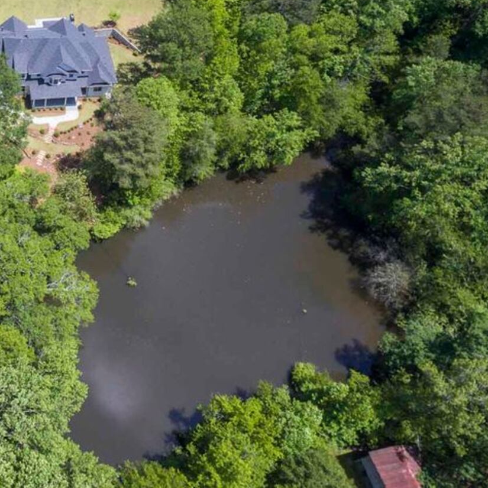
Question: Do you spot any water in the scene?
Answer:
Yes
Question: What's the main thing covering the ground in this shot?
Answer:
trees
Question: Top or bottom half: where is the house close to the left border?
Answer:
top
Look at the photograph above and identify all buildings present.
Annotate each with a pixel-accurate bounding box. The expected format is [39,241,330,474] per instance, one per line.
[0,9,115,110]
[355,441,443,488]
